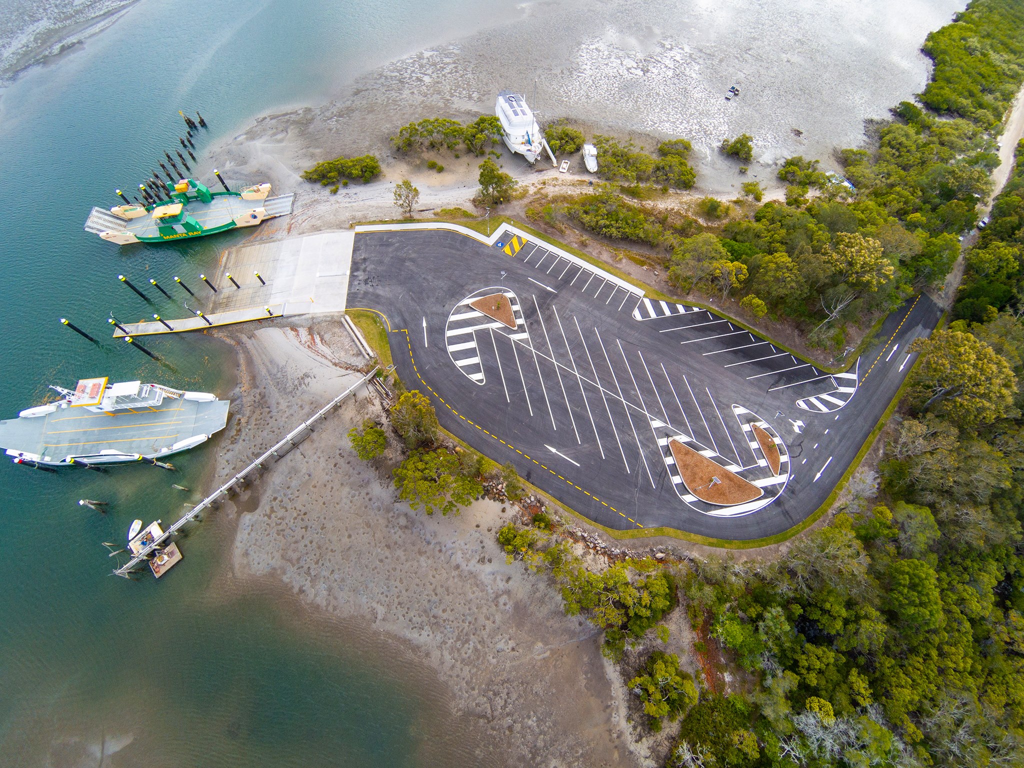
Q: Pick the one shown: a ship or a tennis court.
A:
ship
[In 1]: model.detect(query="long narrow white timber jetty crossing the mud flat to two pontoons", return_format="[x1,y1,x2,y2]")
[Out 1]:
[98,368,374,582]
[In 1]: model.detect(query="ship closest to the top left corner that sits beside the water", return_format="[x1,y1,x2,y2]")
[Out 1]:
[83,178,295,247]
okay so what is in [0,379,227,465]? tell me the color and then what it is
white ship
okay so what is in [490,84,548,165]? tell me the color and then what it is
white boat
